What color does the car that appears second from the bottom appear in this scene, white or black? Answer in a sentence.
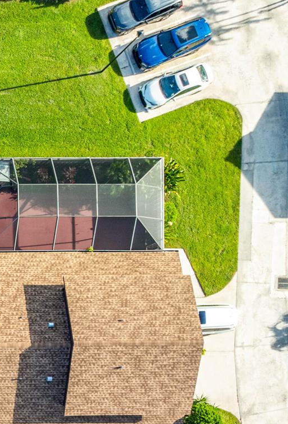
The car that appears second from the bottom looks white in the image.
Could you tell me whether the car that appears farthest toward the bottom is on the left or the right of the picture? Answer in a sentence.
It is on the right.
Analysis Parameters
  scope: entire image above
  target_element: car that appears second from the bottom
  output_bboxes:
[135,62,215,110]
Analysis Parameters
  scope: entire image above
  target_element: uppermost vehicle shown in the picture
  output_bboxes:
[104,0,185,38]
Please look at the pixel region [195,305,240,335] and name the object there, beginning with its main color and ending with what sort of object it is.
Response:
white car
